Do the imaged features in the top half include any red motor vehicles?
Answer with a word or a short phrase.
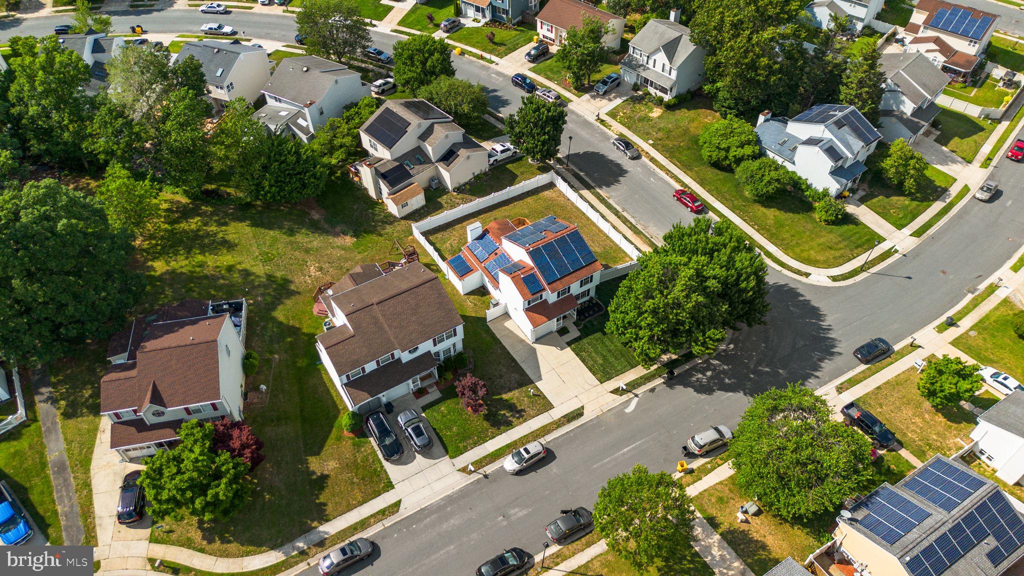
Yes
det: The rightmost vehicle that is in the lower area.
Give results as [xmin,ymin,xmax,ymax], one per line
[977,366,1024,401]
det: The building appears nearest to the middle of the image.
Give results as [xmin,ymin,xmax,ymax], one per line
[444,216,604,343]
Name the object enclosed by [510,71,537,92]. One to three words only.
car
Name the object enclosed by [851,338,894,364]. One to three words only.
car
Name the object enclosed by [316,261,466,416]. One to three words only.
house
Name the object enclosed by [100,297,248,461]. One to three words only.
house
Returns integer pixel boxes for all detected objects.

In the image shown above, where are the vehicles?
[542,506,597,546]
[275,0,288,5]
[510,71,537,92]
[365,412,400,459]
[47,23,81,35]
[473,544,532,576]
[366,48,392,63]
[115,469,146,524]
[977,366,1024,401]
[399,409,435,453]
[685,424,735,456]
[851,338,894,364]
[596,71,621,93]
[972,179,1002,202]
[292,36,318,50]
[672,189,707,213]
[1007,133,1024,157]
[370,77,398,94]
[535,86,565,103]
[317,536,377,576]
[502,438,549,475]
[489,143,522,165]
[526,41,549,61]
[438,17,463,33]
[199,4,227,16]
[248,41,266,55]
[836,396,902,451]
[202,25,232,37]
[610,138,642,159]
[259,0,271,5]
